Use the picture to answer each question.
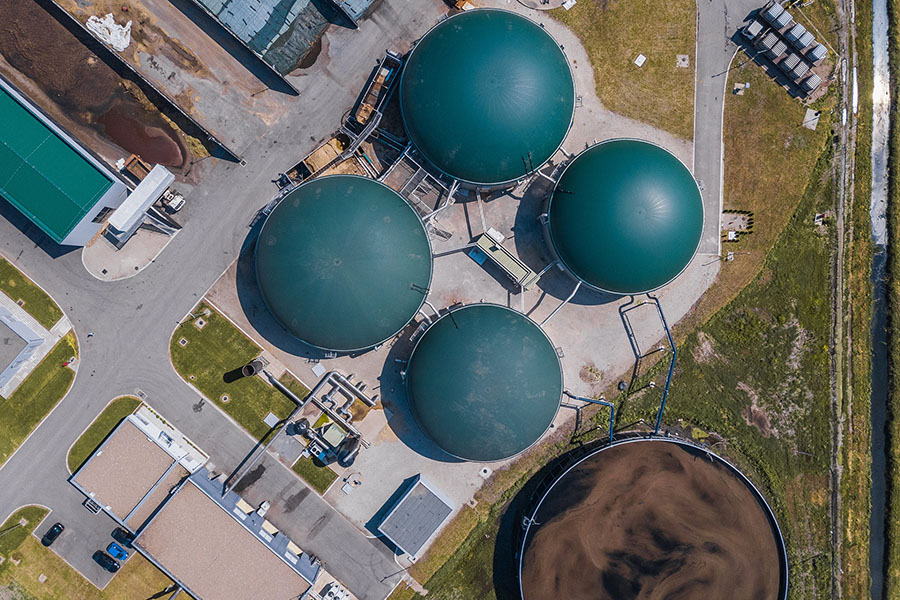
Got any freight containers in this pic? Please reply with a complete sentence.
Yes, I can see a freight container in this picture.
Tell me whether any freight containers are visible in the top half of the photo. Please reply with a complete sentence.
Yes, the scene does show a freight container in the top half of the photo.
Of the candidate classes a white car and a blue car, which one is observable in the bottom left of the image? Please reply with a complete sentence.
You can see a blue car in the bottom left of the image.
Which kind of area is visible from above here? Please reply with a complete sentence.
This image shows an industrial area.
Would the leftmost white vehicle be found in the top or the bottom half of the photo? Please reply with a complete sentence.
The leftmost white vehicle sits in the top half of the picture.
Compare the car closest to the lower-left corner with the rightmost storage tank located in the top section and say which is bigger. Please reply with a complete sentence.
The storage tank covers a greater area than the car.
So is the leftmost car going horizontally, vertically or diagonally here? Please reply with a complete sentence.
Seen from above, the leftmost car lies diagonally.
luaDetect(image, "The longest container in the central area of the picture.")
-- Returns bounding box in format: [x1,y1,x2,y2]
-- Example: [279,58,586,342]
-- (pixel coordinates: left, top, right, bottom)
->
[475,232,537,293]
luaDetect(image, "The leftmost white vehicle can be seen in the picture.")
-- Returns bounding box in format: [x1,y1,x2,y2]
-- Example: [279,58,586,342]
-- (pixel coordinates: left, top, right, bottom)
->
[163,187,190,213]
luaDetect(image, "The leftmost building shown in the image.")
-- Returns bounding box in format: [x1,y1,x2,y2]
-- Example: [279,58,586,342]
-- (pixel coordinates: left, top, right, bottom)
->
[0,302,47,393]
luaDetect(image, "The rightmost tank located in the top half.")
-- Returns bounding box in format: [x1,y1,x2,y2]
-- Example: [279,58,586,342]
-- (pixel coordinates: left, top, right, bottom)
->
[536,134,709,294]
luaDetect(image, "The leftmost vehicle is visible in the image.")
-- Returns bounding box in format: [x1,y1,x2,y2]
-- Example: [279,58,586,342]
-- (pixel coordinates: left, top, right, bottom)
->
[42,521,66,546]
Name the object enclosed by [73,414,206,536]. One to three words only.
building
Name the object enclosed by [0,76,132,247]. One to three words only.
building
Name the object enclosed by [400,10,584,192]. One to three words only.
storage tank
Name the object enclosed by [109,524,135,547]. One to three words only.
car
